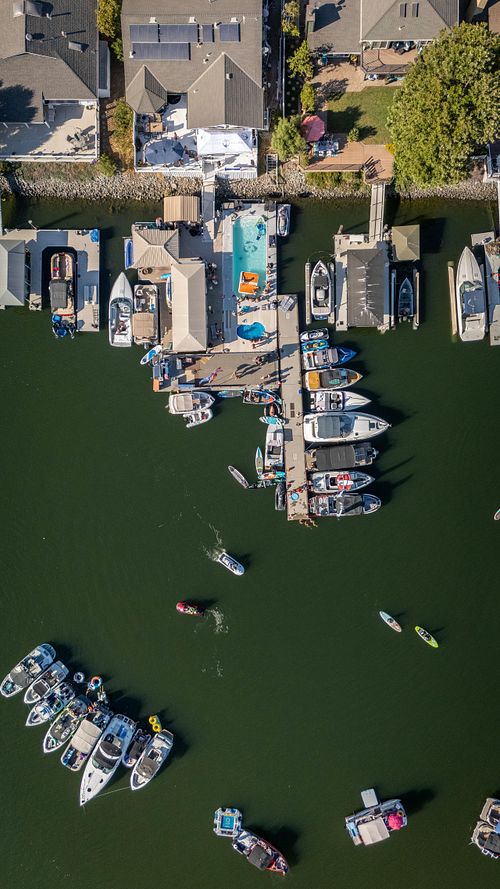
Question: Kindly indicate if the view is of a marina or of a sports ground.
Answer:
marina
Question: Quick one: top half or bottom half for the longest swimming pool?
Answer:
top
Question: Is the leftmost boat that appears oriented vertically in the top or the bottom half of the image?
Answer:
top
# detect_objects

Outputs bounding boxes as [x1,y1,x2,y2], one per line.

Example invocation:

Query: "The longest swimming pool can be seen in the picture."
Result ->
[221,203,279,352]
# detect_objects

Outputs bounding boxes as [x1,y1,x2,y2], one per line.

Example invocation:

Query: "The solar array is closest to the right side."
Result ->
[220,23,240,42]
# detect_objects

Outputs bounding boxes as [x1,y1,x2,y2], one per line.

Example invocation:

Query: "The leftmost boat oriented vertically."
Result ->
[49,249,76,330]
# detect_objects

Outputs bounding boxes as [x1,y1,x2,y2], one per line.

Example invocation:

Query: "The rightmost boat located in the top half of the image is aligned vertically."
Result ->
[453,245,486,347]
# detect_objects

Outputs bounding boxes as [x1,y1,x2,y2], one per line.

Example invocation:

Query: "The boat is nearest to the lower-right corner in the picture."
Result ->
[464,819,500,864]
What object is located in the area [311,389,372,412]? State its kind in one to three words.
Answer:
boat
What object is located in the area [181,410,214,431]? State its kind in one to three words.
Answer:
boat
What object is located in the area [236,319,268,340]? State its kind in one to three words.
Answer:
swimming pool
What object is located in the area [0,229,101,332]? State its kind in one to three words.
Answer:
pier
